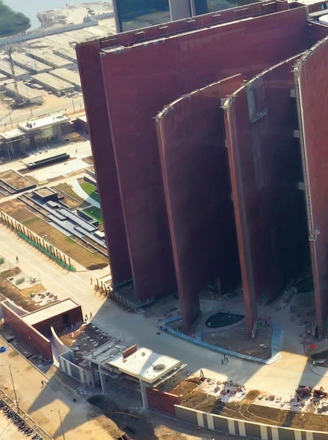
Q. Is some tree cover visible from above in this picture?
No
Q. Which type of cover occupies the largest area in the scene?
buildings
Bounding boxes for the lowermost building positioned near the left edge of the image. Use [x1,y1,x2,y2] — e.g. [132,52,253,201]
[0,298,84,360]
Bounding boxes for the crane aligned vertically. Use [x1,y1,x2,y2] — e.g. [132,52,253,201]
[0,15,28,107]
